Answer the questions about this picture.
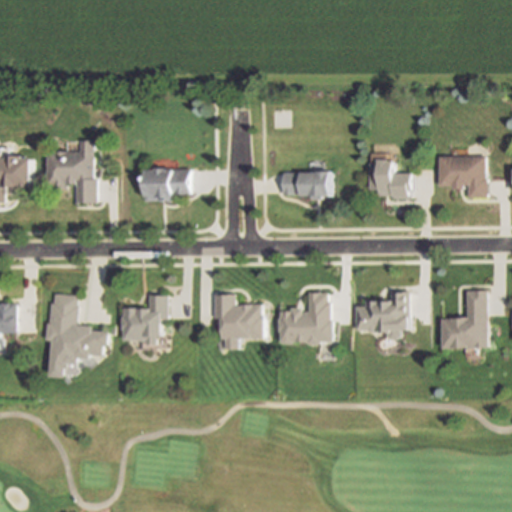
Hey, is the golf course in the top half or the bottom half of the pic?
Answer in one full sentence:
The golf course sits in the bottom half of the picture.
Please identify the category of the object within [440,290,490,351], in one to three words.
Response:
house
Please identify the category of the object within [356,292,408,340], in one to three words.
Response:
house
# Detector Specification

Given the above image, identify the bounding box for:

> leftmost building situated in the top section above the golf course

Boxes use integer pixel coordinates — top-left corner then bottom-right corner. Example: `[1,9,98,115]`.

[0,154,30,205]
